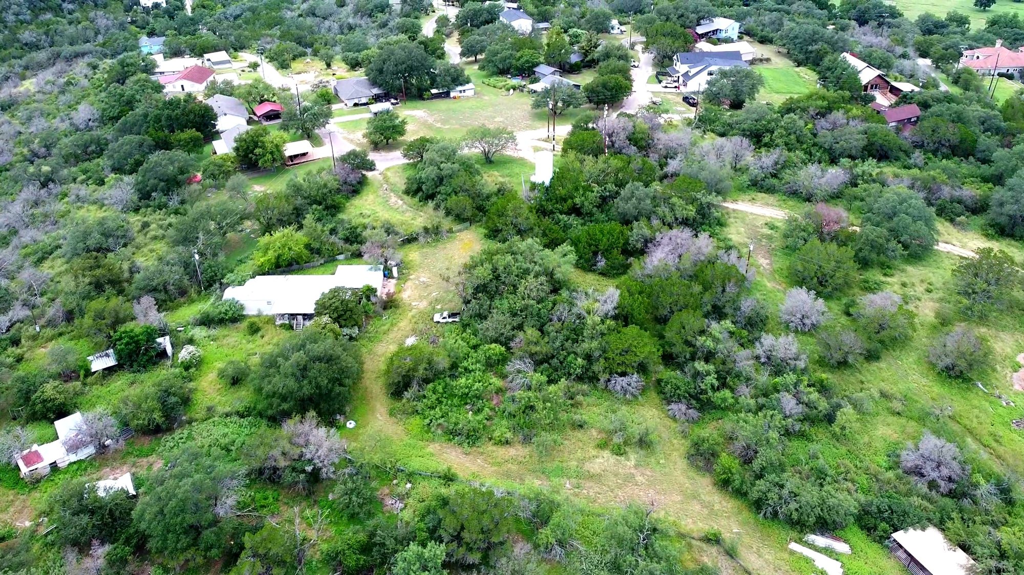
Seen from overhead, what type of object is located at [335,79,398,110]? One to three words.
house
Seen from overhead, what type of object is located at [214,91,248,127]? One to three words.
house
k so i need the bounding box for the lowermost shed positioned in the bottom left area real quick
[90,470,137,507]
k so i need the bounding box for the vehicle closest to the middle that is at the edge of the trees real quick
[434,311,461,323]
